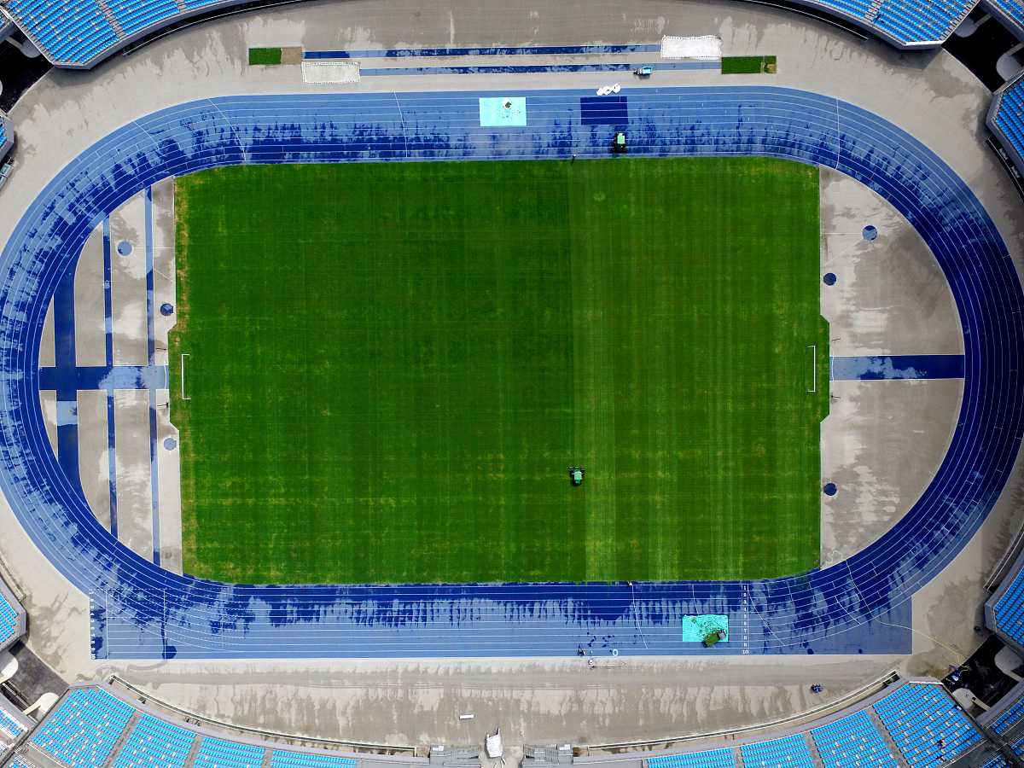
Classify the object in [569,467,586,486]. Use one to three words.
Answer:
work vehicle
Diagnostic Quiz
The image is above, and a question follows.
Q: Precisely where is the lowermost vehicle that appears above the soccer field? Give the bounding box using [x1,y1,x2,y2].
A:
[611,132,629,154]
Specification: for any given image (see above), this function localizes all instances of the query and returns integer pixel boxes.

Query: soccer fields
[168,156,829,584]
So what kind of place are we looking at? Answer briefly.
sports ground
